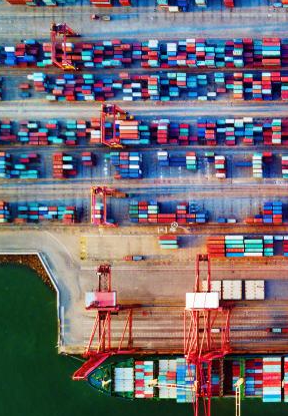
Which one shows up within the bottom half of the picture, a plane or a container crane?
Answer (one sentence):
Looking within the bottom half of the picture, you will find a container crane.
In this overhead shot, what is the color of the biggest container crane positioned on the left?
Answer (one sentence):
In this view, the biggest container crane positioned on the left is red.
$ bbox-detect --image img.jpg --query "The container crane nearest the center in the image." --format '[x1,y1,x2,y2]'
[91,188,121,231]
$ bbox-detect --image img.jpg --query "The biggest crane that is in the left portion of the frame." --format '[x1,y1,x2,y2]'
[70,265,151,386]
